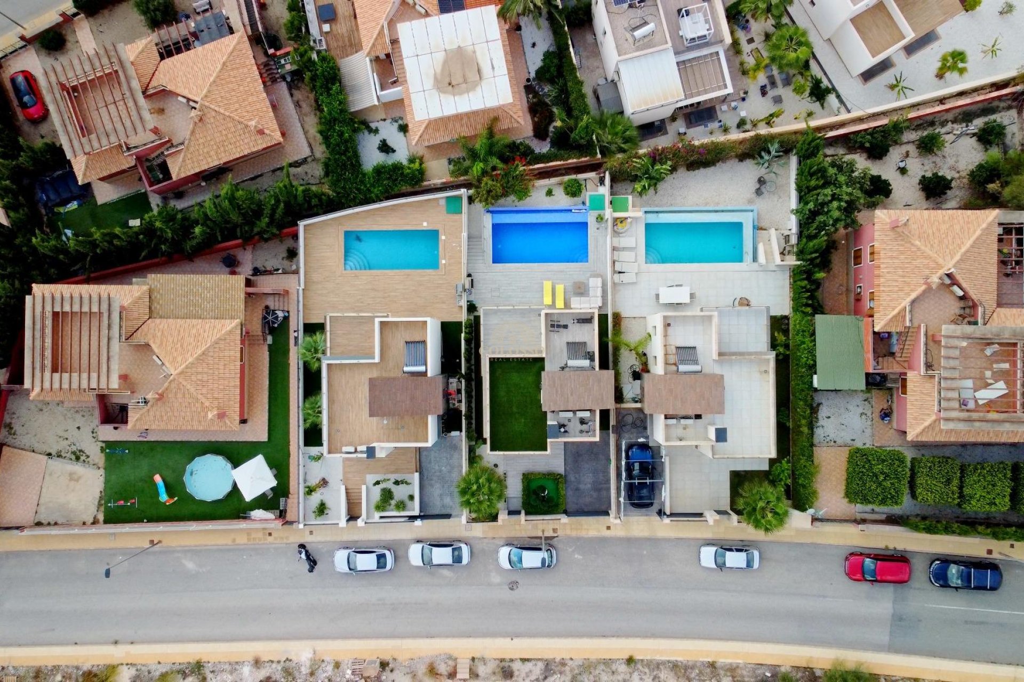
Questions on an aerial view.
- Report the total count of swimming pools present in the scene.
4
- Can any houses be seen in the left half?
Yes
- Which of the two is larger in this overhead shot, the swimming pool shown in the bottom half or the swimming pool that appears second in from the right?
the swimming pool that appears second in from the right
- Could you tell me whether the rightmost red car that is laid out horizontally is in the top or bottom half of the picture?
bottom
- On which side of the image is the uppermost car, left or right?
left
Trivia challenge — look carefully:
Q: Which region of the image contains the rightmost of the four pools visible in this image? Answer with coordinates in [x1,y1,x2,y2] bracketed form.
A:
[644,206,759,267]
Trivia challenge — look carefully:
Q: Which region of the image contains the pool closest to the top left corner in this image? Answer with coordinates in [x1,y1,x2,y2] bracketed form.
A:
[338,222,445,275]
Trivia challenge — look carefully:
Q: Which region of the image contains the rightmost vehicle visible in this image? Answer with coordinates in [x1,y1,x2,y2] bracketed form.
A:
[926,557,1001,591]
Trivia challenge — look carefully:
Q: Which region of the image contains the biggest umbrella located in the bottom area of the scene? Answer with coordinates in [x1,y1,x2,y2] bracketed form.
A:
[233,455,277,502]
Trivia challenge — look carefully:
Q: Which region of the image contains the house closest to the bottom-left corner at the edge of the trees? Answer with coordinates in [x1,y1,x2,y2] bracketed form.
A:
[25,274,247,431]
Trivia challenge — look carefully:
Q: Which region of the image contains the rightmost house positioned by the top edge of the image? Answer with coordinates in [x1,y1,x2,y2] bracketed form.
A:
[791,0,915,83]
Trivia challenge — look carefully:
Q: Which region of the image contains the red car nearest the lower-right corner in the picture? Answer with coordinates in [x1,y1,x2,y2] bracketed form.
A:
[841,552,911,584]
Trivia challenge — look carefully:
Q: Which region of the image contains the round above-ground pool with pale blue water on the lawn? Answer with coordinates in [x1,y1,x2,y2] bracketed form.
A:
[183,451,238,503]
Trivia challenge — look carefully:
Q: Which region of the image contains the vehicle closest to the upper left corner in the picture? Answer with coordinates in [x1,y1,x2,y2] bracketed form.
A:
[9,68,53,125]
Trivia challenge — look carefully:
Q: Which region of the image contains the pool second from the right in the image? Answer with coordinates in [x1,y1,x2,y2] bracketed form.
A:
[483,206,590,265]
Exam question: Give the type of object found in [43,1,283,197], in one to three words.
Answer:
house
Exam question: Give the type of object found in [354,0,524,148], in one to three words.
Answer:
house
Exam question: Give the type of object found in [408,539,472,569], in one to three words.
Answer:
car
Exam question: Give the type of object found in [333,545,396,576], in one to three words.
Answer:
car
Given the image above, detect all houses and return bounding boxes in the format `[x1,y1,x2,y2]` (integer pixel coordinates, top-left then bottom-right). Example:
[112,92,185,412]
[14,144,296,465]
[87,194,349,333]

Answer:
[637,306,776,458]
[25,274,247,431]
[846,208,1024,443]
[595,0,734,131]
[321,313,448,472]
[473,307,615,454]
[354,0,524,148]
[43,1,283,197]
[791,0,915,83]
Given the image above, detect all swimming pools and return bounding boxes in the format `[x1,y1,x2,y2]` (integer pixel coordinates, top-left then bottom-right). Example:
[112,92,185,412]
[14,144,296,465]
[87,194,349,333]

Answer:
[644,206,759,267]
[183,451,238,503]
[483,206,590,265]
[338,222,445,275]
